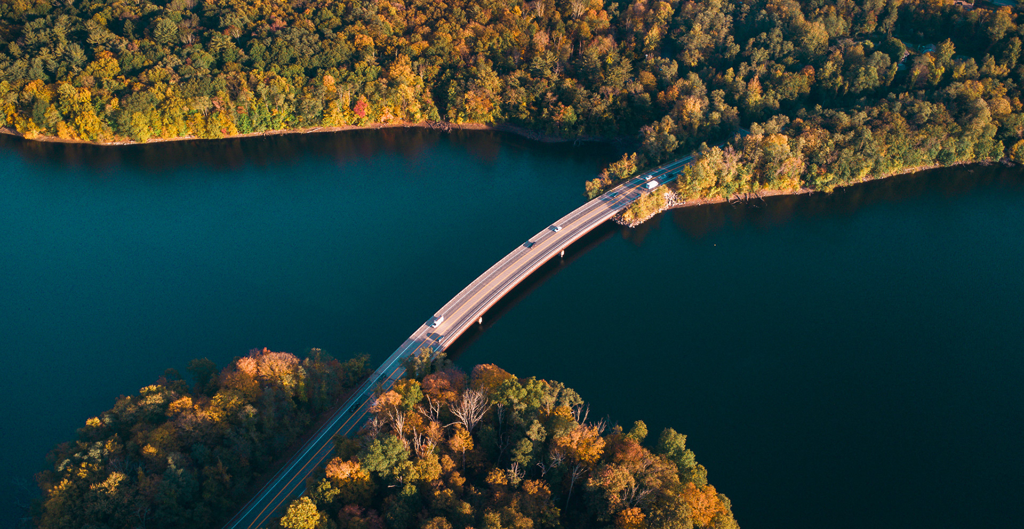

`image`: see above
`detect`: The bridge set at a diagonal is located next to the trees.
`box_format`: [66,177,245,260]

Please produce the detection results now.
[378,197,625,381]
